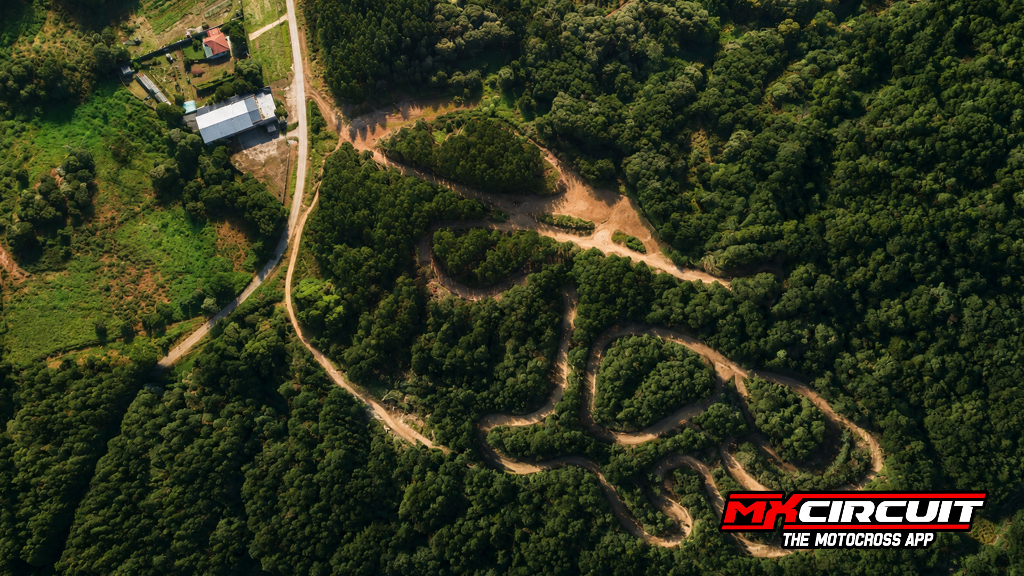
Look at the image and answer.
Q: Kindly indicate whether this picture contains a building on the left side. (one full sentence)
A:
Yes, a building appears on the left side.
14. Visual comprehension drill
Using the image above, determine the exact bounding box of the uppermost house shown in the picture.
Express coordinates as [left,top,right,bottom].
[203,28,231,60]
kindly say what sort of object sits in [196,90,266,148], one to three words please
building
